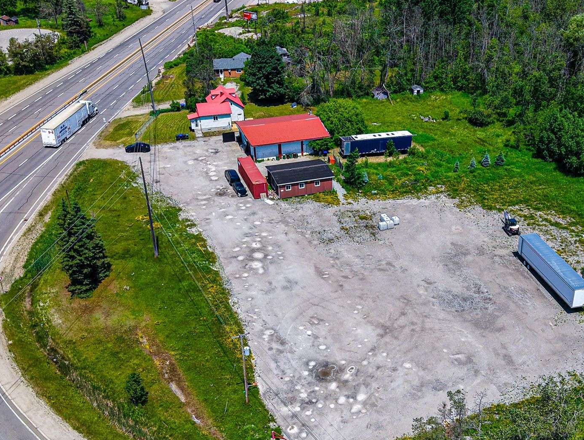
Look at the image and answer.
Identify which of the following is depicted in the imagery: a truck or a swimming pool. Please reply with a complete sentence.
Visible in the photo is a truck.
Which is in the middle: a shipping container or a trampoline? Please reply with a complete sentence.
You can see a shipping container in the middle.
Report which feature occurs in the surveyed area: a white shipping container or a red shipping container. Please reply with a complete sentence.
This aerial view contains a red shipping container.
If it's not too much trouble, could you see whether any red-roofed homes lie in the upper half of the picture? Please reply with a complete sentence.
Yes, there is a red-roofed home in the upper half of the picture.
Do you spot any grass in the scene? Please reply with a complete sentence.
Yes, the picture does contain grass.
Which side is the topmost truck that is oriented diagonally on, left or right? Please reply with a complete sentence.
It is on the left.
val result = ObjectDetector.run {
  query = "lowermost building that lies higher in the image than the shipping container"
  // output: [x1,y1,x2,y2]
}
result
[239,113,331,162]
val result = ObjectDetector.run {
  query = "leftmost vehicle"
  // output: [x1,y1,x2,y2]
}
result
[40,99,99,145]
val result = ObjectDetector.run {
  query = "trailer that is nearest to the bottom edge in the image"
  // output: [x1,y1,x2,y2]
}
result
[517,232,584,309]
